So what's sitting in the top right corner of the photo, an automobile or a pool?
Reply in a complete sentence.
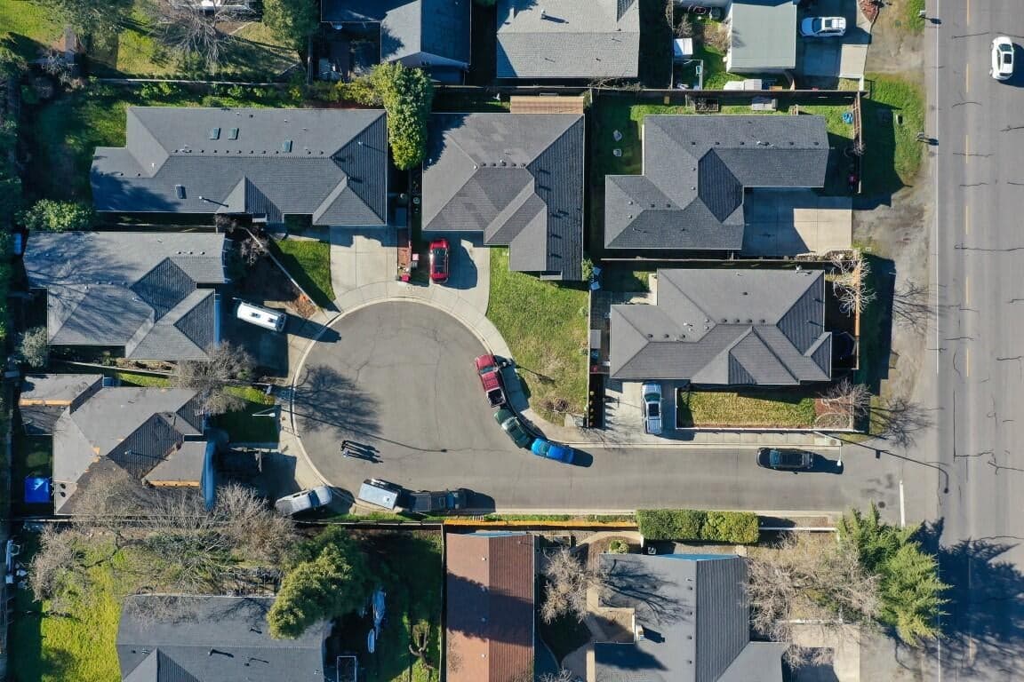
There is an automobile in the top right corner of the photo.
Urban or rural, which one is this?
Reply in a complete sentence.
It looks urban.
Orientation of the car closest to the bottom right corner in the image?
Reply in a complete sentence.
In this picture, the car closest to the bottom right corner is oriented from side to side.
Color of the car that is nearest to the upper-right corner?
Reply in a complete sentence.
The car that is nearest to the upper-right corner looks white in the image.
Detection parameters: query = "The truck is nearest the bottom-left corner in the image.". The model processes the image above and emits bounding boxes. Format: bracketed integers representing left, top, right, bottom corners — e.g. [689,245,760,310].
[276,484,332,518]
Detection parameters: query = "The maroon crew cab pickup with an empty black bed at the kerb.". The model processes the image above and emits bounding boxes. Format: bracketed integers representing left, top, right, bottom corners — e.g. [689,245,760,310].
[479,355,507,408]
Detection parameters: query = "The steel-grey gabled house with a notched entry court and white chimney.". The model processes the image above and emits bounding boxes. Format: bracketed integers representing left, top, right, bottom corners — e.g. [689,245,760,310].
[598,554,787,682]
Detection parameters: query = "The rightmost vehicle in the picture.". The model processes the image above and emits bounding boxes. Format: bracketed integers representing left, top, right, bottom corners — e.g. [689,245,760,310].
[986,38,1013,82]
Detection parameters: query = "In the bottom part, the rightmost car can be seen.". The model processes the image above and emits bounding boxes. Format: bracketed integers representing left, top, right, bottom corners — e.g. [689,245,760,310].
[756,448,810,471]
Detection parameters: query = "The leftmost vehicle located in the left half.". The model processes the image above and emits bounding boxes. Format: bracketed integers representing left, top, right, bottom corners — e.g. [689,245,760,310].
[233,301,291,335]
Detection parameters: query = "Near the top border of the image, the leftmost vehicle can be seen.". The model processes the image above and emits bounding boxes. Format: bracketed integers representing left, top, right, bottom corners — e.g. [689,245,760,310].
[798,15,845,39]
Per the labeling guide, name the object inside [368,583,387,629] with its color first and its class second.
blue boat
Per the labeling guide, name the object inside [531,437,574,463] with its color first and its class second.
blue car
